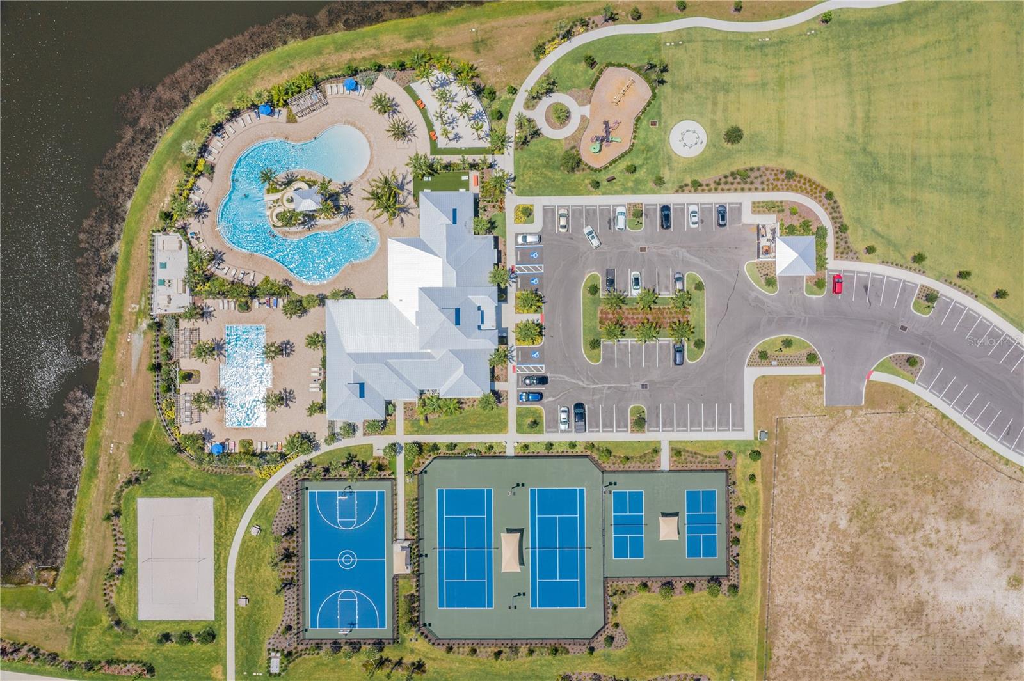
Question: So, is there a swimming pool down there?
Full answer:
Yes, I can see a swimming pool in this picture.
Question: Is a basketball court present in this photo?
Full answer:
Yes, a basketball court can be made out from above.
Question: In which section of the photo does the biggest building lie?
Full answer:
The biggest building is in the center part of the image.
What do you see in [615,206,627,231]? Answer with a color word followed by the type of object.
white vehicle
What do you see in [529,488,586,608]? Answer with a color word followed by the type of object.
blue tennis court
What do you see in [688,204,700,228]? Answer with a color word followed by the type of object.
white vehicle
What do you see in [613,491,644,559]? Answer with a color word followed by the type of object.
blue sports court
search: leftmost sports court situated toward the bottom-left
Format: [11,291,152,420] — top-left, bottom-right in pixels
[137,498,214,621]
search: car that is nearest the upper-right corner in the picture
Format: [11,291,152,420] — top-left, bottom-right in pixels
[832,273,844,294]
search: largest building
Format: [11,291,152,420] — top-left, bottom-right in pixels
[326,192,498,420]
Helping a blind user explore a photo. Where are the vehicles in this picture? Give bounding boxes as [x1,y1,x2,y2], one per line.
[518,234,542,244]
[558,208,569,232]
[673,341,684,365]
[660,205,672,230]
[559,406,570,430]
[605,268,615,293]
[585,225,602,248]
[615,206,627,231]
[832,273,844,294]
[674,271,684,293]
[716,204,728,228]
[688,204,700,228]
[574,403,586,432]
[523,374,549,386]
[519,392,543,402]
[630,271,641,296]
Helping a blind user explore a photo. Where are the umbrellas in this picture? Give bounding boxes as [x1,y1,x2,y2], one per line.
[259,103,271,115]
[343,77,356,90]
[211,442,224,455]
